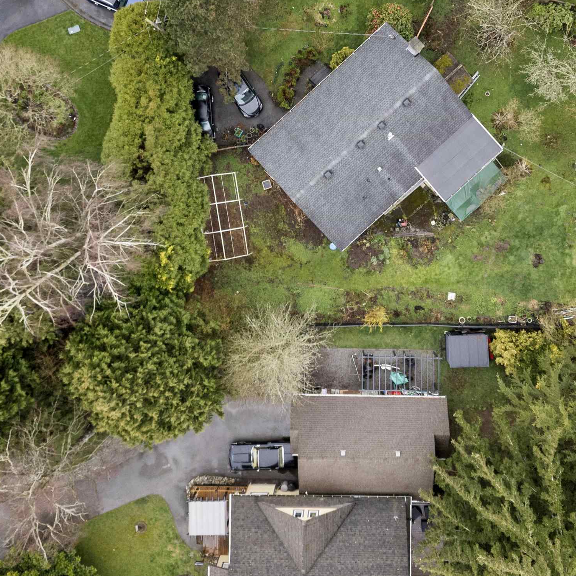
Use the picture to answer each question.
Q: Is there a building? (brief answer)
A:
Yes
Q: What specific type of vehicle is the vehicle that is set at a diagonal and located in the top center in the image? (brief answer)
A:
car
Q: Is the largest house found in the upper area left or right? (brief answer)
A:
right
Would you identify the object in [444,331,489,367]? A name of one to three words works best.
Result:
shed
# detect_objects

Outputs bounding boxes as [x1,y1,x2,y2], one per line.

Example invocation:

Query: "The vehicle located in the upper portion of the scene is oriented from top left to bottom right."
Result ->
[210,61,267,118]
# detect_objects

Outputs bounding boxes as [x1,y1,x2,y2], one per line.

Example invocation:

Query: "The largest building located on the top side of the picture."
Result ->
[247,21,504,252]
